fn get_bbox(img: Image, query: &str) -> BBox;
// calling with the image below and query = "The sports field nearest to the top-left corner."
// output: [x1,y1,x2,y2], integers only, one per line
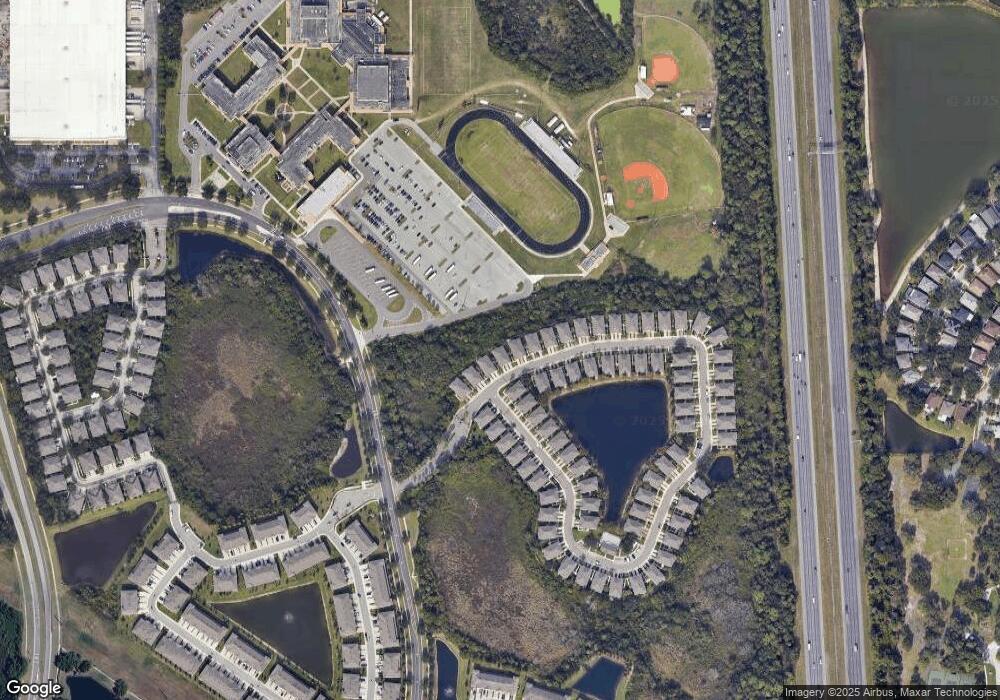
[421,4,517,96]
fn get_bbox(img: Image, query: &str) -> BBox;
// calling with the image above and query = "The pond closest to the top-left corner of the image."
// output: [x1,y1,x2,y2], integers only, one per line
[175,227,295,286]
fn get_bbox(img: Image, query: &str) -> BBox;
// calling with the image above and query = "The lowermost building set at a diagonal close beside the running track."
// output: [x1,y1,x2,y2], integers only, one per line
[577,243,607,273]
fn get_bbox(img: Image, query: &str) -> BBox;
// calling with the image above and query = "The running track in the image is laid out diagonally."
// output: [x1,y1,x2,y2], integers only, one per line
[441,108,591,254]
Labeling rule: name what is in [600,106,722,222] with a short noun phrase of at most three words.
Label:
baseball field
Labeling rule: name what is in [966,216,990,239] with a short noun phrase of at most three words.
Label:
house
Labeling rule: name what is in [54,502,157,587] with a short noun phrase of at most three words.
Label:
pond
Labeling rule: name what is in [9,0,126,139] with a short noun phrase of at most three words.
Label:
warehouse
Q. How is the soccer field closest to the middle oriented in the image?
on a diagonal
